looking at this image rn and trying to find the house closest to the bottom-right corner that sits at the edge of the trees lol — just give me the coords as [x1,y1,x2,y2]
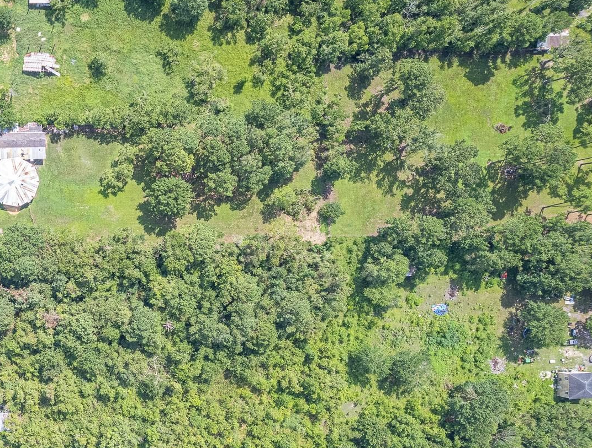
[558,372,592,399]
